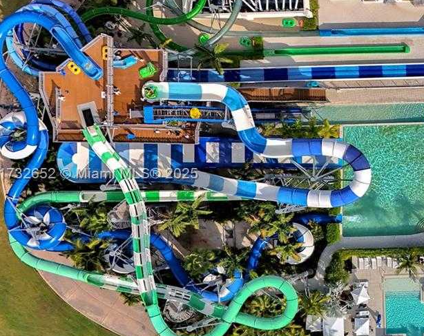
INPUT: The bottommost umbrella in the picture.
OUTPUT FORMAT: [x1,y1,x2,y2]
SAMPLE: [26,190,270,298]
[355,318,371,334]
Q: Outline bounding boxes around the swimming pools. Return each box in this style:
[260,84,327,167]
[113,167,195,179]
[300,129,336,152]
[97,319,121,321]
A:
[385,276,424,336]
[305,103,424,236]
